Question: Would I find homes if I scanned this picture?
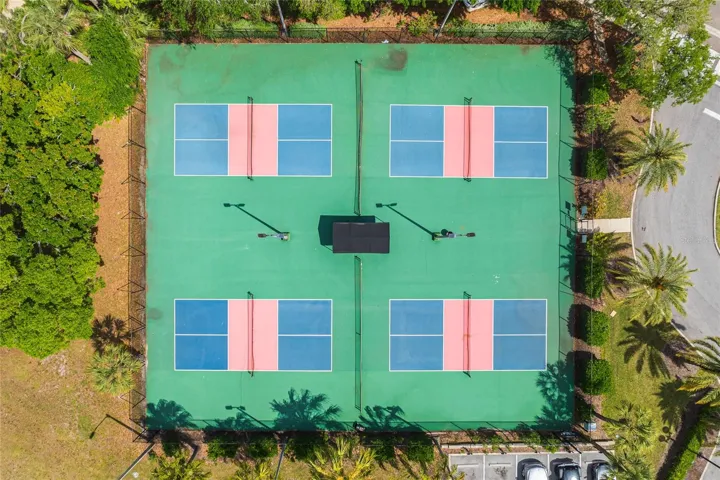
No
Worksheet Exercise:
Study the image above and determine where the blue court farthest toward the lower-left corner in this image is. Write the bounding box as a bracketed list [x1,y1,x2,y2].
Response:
[174,299,332,371]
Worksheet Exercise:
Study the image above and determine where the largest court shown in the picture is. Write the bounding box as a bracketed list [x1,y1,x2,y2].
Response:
[145,41,577,432]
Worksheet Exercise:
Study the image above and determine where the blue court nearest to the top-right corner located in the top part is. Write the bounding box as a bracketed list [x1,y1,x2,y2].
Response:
[390,105,548,179]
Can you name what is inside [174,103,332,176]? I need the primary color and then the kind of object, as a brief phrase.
blue sports court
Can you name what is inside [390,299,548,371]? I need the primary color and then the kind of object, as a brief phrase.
blue sports court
